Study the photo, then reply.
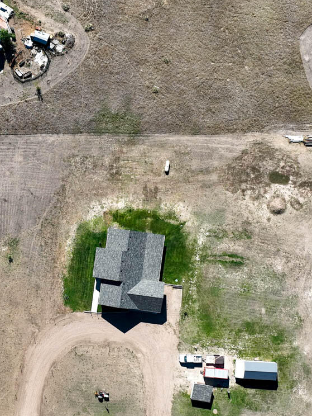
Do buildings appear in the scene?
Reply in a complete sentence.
Yes, there's a building here.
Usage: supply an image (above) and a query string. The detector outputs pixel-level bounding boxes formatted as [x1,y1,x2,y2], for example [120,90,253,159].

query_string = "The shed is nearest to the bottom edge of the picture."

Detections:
[190,381,213,404]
